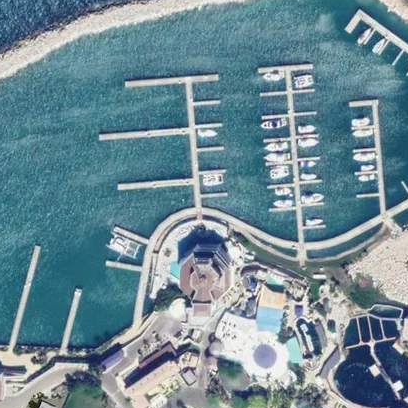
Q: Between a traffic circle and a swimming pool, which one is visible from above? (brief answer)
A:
swimming pool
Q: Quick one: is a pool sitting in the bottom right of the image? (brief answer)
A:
Yes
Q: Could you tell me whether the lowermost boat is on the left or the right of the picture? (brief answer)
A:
left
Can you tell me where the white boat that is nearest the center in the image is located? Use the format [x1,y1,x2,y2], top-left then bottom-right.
[203,174,224,186]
